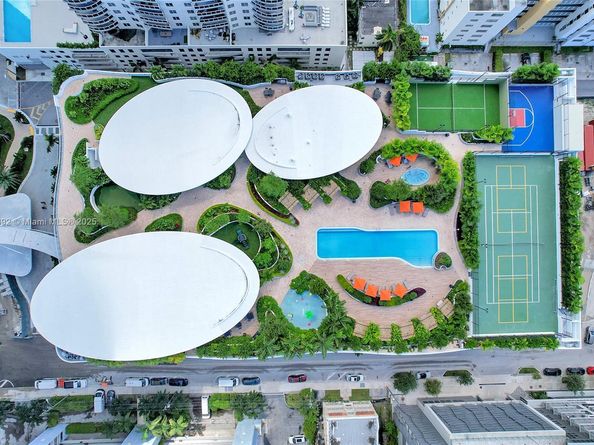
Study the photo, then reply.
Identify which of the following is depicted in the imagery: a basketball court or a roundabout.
basketball court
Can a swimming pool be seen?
Yes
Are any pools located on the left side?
Yes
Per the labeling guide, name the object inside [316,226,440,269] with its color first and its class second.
blue swimming pool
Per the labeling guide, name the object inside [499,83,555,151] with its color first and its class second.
blue basketball court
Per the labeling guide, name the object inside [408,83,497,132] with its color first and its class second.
green sports court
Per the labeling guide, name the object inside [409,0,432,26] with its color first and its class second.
blue swimming pool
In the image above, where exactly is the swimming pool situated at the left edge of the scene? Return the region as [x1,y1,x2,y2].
[3,0,32,43]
